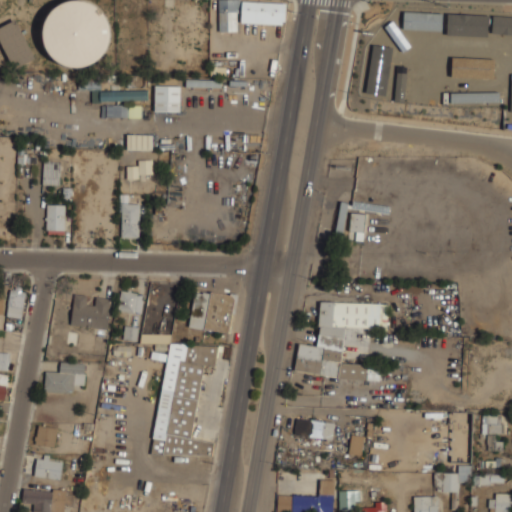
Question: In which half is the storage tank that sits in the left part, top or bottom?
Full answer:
It is in the top half that the storage tank that sits in the left part appears.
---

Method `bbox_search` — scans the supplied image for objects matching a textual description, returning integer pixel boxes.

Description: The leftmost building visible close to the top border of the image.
[0,21,34,68]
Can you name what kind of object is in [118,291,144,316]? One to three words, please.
house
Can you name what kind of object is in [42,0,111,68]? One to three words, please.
storage tank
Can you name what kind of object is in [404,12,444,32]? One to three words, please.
building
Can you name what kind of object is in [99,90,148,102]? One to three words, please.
shed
